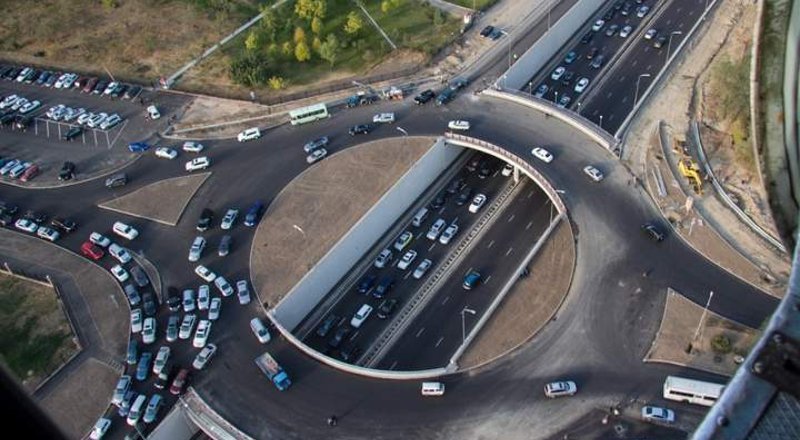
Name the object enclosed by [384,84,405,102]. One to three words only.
work vehicle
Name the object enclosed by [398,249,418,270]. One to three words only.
car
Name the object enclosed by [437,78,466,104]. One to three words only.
truck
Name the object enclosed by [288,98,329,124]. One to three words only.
bus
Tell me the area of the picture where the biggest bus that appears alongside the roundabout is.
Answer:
bottom right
